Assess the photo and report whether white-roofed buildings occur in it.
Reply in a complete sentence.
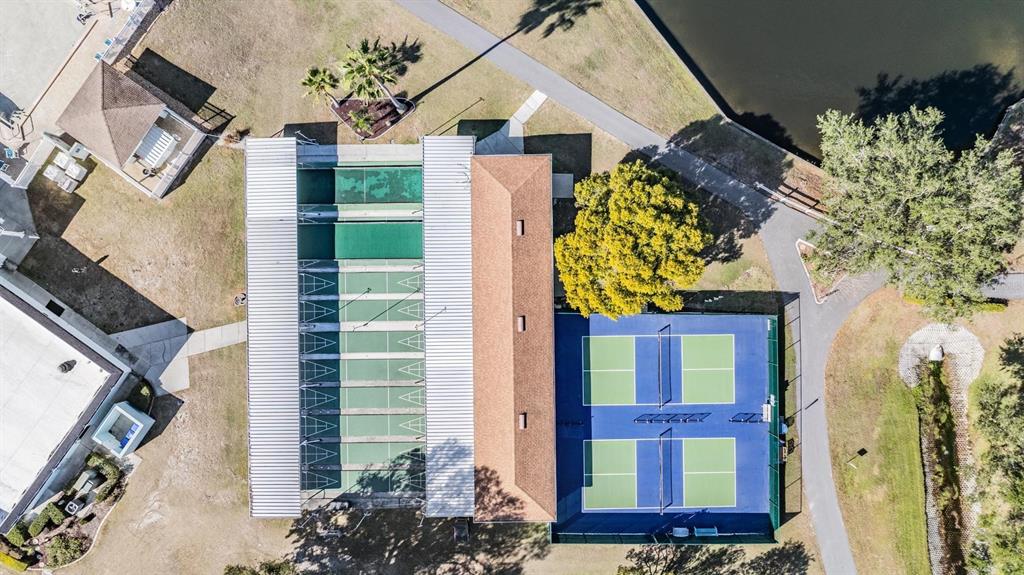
Yes, there's a white-roofed building here.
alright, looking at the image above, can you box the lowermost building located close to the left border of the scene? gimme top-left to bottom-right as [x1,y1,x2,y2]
[0,273,135,535]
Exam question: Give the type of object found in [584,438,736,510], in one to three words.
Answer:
sports court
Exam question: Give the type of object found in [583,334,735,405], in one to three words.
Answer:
sports court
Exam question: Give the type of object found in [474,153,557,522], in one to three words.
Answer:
building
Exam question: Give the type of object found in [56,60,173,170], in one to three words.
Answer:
building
